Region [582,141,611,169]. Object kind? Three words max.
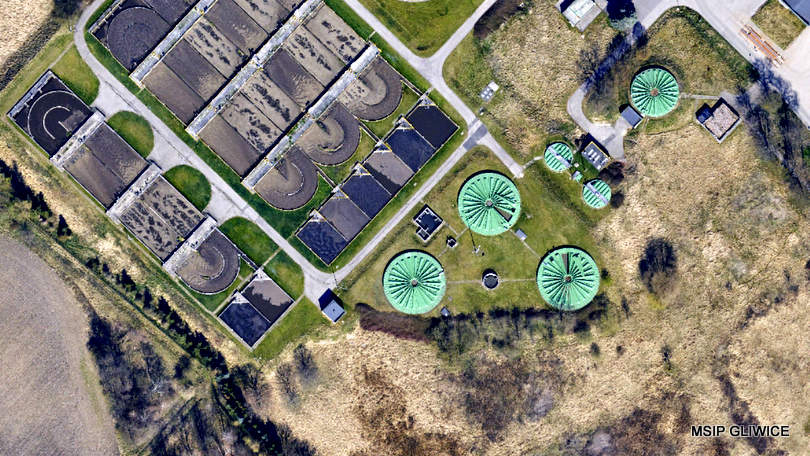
building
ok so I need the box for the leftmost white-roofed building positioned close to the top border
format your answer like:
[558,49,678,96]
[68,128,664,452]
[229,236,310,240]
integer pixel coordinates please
[555,0,608,32]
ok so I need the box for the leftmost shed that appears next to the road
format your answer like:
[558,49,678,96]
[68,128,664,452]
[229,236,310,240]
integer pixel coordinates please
[320,300,347,325]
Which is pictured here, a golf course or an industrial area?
industrial area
